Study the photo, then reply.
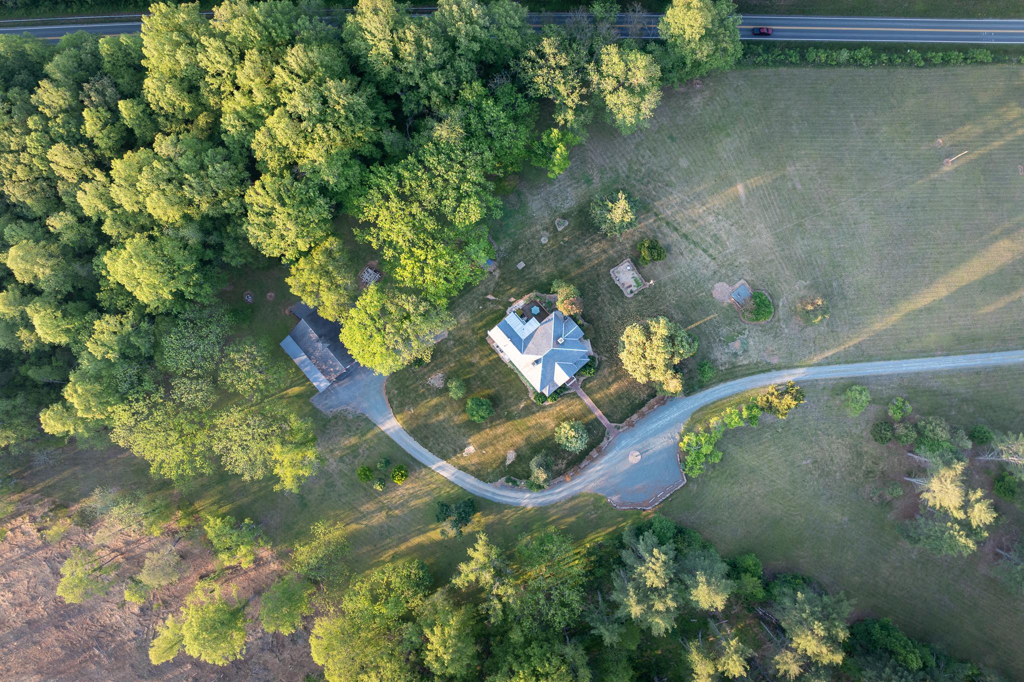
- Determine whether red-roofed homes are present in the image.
No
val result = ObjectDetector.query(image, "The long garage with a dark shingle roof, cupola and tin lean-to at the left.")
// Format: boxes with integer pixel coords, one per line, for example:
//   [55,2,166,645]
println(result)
[282,300,359,393]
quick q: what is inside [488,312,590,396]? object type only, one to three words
house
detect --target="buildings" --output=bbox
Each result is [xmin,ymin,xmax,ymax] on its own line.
[488,312,590,396]
[282,300,359,393]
